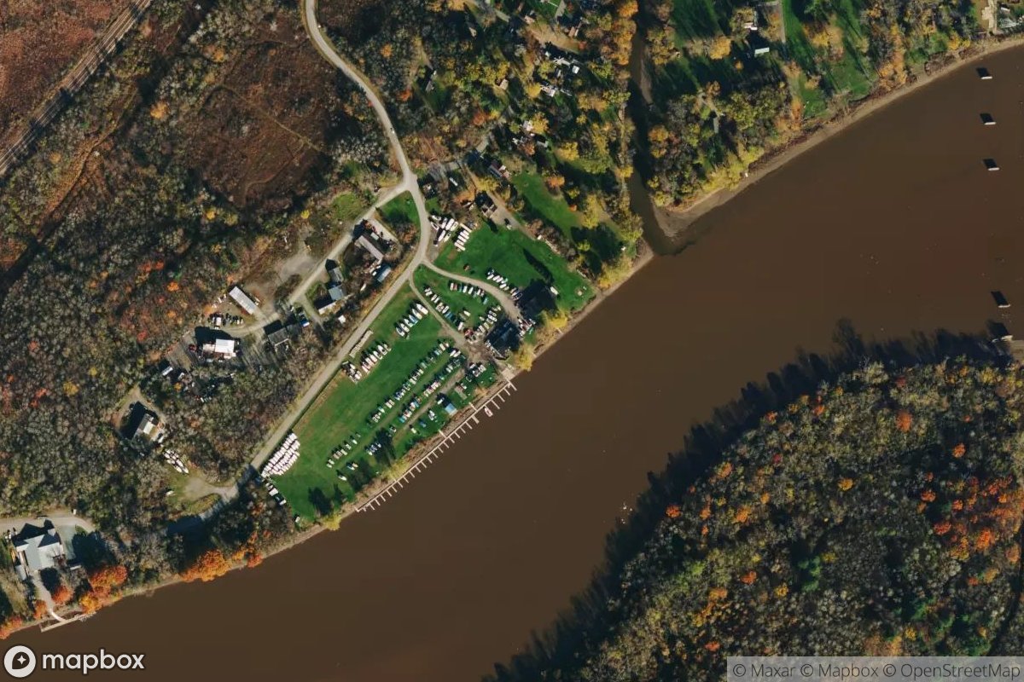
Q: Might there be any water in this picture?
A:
Yes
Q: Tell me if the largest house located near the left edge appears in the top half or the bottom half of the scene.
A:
bottom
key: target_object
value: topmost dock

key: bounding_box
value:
[355,377,516,512]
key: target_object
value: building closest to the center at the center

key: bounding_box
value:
[486,320,519,352]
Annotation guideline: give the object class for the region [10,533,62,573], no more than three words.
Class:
house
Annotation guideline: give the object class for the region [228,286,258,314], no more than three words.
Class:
shed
